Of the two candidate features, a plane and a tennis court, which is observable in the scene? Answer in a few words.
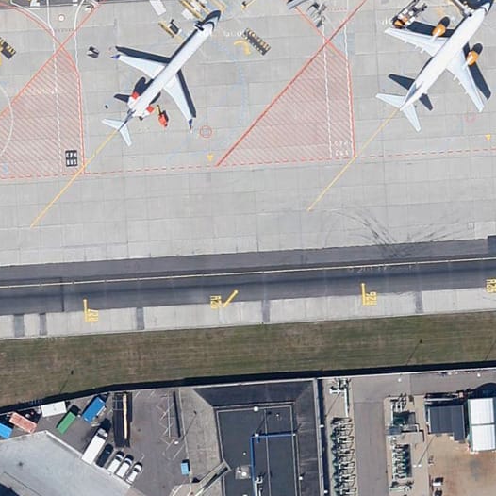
plane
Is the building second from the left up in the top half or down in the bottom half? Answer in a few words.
bottom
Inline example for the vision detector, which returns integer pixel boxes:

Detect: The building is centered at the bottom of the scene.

[189,378,324,496]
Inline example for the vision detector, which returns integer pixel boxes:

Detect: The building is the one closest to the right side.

[466,396,496,450]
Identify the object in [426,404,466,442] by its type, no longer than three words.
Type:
building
